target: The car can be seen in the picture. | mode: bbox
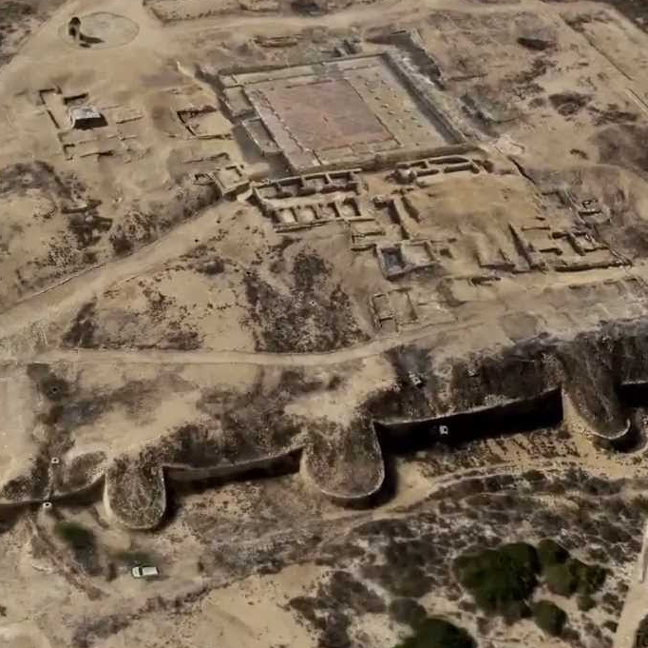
[133,568,158,581]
